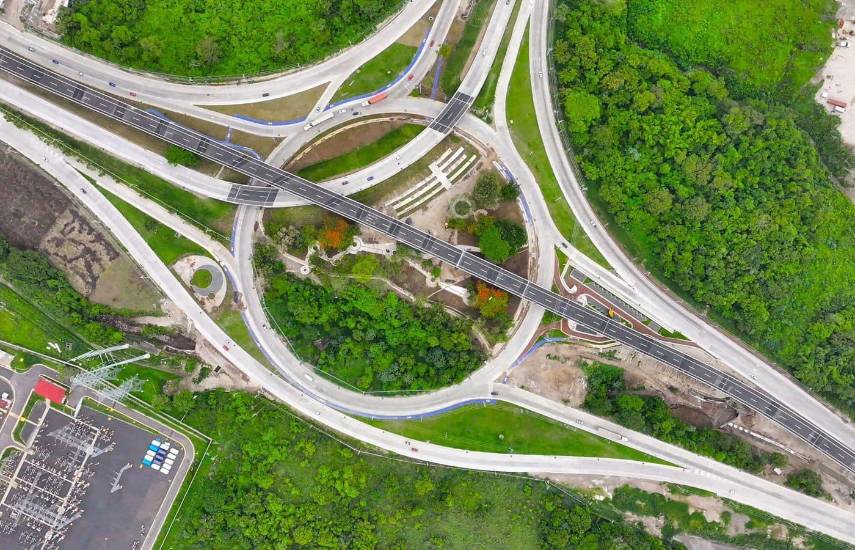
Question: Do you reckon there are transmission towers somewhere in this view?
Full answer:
Yes, there's a transmission tower here.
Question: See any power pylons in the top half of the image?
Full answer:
No, in the top half of the image there is no power pylon.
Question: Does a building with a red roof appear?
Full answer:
Yes, a building with a red roof can be made out from above.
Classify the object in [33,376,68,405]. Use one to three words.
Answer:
building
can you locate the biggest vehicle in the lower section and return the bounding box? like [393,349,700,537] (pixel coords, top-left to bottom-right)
[600,427,626,440]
